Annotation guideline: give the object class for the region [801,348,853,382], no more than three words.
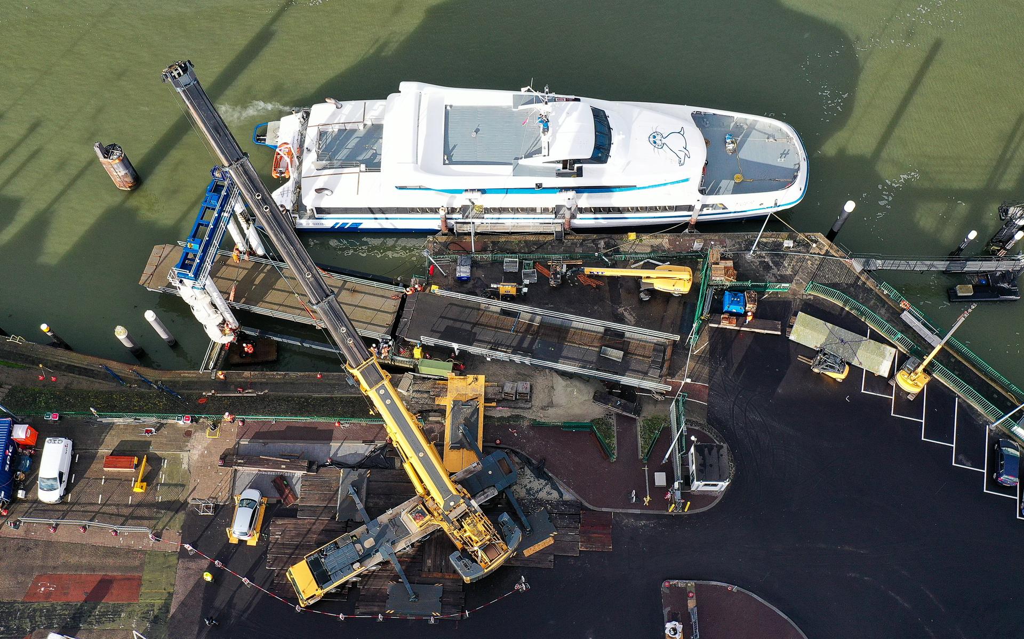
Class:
work vehicle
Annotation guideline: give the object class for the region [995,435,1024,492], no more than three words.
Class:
car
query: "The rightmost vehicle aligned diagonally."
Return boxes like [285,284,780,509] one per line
[897,306,977,397]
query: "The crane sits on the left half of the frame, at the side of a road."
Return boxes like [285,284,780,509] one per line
[156,55,547,618]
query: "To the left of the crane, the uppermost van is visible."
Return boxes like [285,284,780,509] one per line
[29,431,71,504]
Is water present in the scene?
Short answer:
Yes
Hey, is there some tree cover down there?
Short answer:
No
